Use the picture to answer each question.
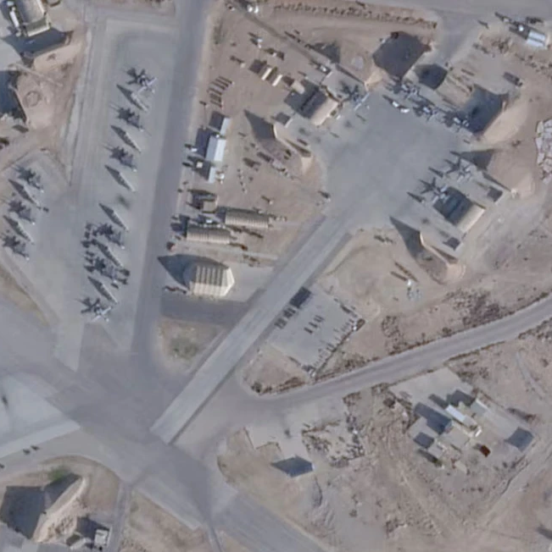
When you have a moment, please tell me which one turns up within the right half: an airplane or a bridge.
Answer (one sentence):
The feature located within the right half is an airplane.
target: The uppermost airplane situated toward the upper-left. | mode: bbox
[137,74,156,93]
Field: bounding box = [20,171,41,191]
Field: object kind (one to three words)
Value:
airplane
